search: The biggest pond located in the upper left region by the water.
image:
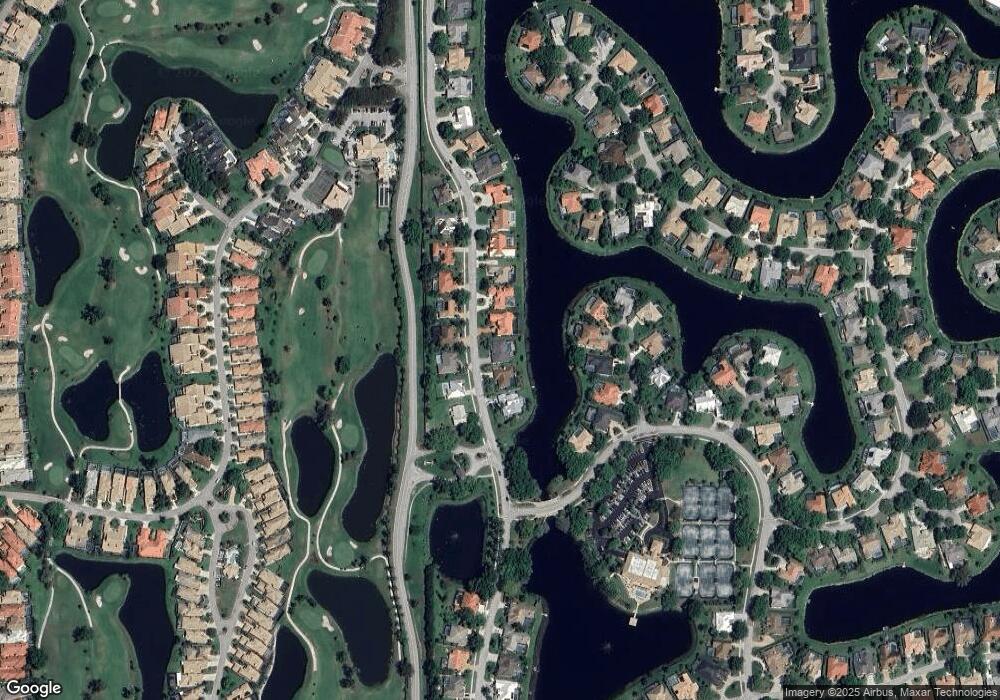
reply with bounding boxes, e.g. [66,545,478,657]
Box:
[97,51,278,181]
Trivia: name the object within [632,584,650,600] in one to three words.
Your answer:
swimming pool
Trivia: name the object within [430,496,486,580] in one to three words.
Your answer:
pond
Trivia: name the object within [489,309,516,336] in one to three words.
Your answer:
house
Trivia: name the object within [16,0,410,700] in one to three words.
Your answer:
golf course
